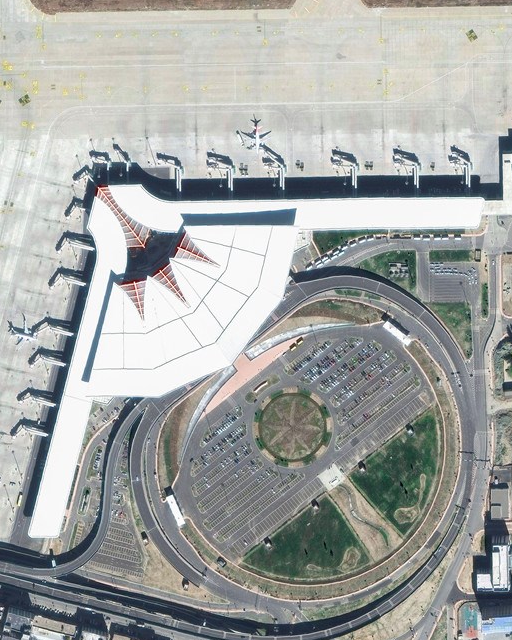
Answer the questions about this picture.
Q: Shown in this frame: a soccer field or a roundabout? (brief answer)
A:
roundabout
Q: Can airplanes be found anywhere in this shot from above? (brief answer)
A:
Yes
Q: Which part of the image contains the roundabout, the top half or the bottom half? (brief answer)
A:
bottom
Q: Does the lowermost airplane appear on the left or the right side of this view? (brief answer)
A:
left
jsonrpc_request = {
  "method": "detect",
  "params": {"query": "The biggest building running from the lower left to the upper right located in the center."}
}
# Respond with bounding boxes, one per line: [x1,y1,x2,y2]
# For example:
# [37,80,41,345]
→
[28,179,486,538]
